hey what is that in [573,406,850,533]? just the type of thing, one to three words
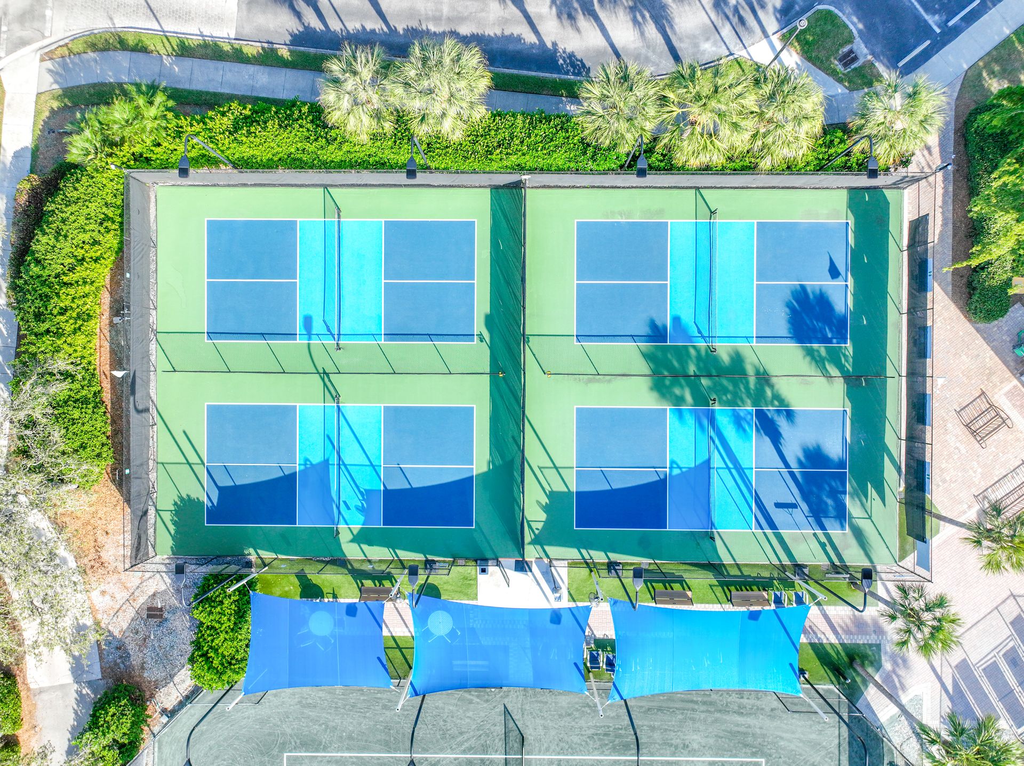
sports court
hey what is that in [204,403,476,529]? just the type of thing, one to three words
sports court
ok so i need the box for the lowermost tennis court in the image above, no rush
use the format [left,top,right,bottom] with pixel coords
[157,685,893,766]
